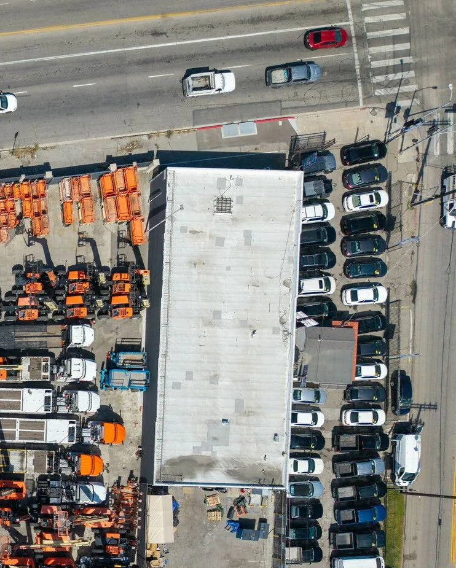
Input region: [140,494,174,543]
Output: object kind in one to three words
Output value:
tent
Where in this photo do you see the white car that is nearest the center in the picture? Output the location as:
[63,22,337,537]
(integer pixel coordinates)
[298,274,337,297]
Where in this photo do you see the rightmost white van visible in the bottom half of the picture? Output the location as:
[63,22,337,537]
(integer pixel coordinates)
[390,425,427,487]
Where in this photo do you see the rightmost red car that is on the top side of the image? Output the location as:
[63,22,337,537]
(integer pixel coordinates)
[300,25,349,52]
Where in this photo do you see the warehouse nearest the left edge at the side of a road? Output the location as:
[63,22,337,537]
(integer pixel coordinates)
[137,168,305,489]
